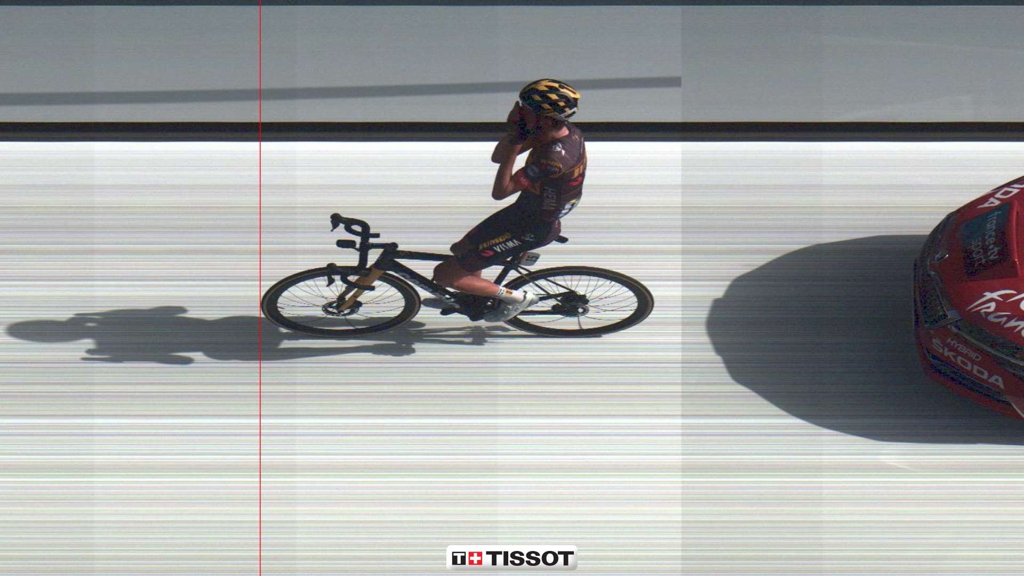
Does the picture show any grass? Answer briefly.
No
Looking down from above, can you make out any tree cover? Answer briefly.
No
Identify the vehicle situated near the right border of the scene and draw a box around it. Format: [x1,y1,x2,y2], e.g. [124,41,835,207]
[911,165,1024,420]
